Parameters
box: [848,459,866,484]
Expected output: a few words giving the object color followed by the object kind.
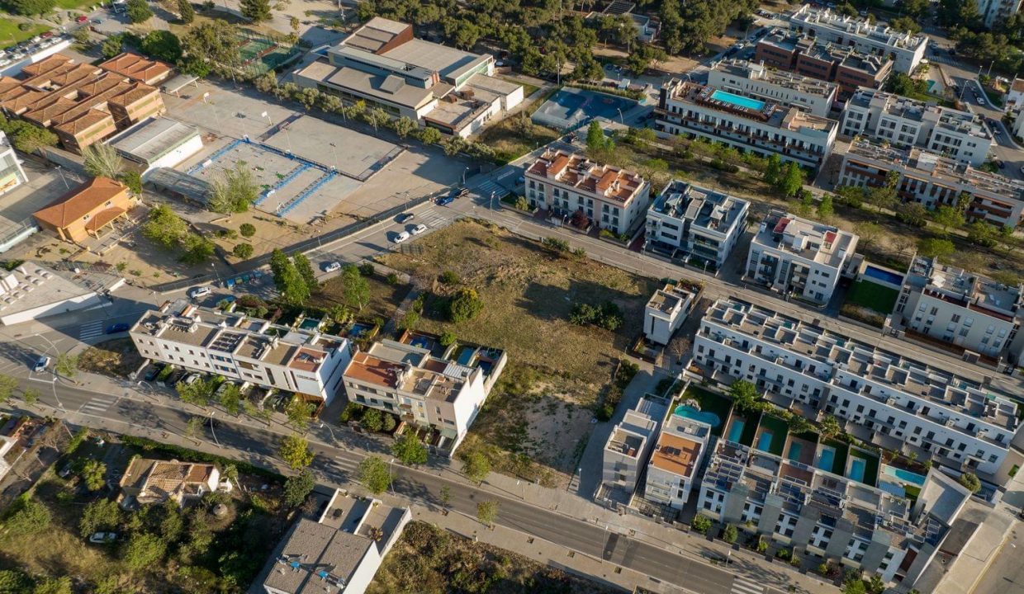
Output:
blue swimming pool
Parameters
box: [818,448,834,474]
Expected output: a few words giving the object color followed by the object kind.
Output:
blue swimming pool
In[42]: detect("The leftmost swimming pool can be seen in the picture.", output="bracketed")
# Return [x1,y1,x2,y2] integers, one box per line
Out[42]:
[298,317,318,331]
